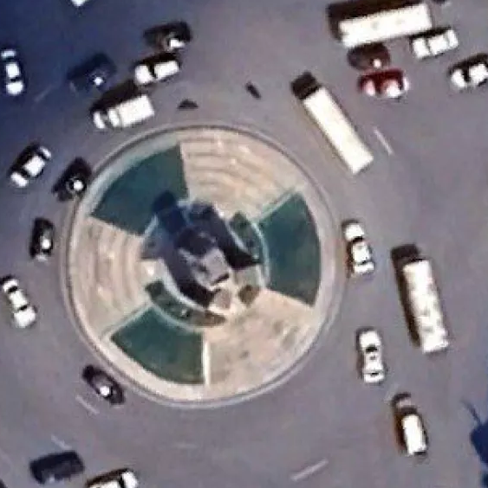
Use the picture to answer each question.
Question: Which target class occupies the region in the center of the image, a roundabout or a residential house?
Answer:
roundabout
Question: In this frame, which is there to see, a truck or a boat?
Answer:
truck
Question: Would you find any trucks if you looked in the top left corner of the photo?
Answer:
Yes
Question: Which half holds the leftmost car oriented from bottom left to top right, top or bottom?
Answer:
top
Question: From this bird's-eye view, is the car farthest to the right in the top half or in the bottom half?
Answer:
top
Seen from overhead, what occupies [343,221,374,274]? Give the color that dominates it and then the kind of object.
white car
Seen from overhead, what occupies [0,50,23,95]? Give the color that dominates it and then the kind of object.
white car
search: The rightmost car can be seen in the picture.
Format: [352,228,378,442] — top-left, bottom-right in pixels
[449,55,488,86]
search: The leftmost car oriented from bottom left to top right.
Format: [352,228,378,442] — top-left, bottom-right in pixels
[9,145,53,185]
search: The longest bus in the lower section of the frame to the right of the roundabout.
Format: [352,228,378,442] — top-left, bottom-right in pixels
[400,255,447,349]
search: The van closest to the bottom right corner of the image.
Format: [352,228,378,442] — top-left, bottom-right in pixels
[396,399,430,456]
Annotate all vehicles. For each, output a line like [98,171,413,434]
[410,29,458,55]
[31,220,53,260]
[298,85,370,171]
[92,90,155,123]
[334,1,430,47]
[9,145,53,185]
[449,55,488,86]
[0,50,23,95]
[348,45,391,69]
[0,276,38,328]
[361,74,406,94]
[55,160,92,200]
[357,331,385,382]
[68,57,114,84]
[343,221,374,274]
[87,471,136,488]
[400,255,447,349]
[134,55,181,84]
[396,399,430,456]
[82,365,125,405]
[31,451,83,483]
[146,24,190,49]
